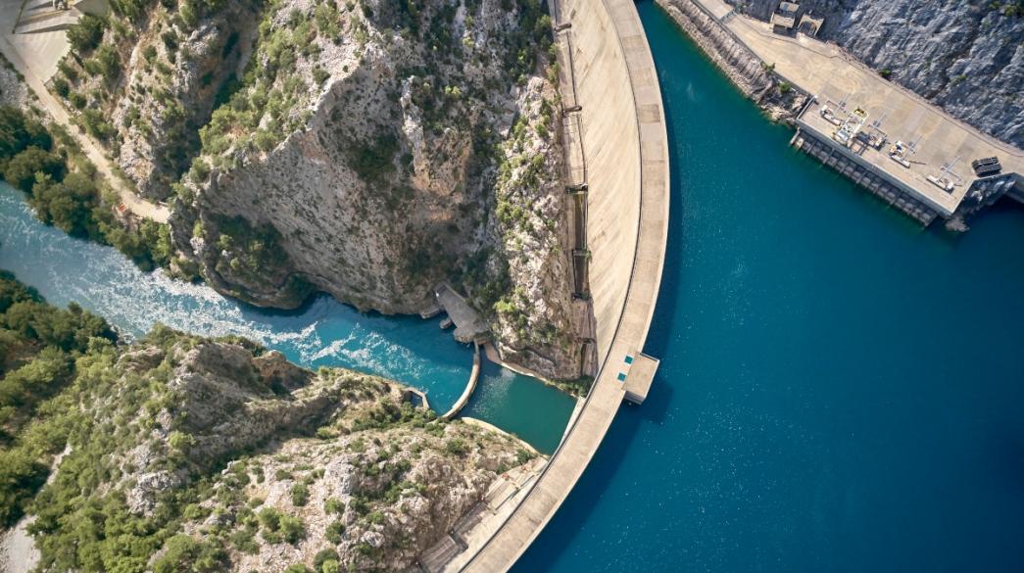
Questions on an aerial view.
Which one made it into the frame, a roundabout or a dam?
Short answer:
dam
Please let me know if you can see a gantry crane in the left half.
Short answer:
No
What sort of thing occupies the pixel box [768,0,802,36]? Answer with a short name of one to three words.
building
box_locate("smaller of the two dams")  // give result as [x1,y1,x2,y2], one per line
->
[441,341,481,419]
